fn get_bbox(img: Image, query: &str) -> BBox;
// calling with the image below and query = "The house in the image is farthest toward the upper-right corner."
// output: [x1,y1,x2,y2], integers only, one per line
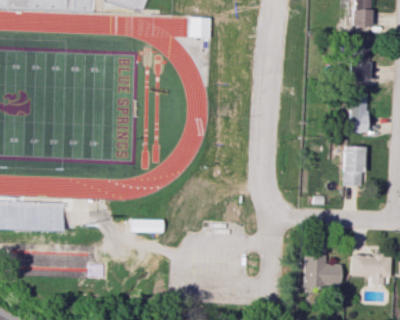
[354,0,374,28]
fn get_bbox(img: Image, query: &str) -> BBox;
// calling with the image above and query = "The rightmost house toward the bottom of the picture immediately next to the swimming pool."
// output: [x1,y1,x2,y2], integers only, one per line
[350,256,392,286]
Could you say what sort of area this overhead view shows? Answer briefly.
sports ground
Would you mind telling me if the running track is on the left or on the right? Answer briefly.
left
